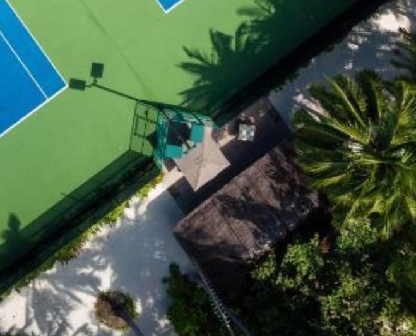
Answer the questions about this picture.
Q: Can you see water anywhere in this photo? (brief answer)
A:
No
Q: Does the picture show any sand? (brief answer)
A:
Yes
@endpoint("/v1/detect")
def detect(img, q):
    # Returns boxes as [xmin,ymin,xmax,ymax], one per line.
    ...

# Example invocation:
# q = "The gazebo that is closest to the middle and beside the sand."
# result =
[170,133,232,193]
